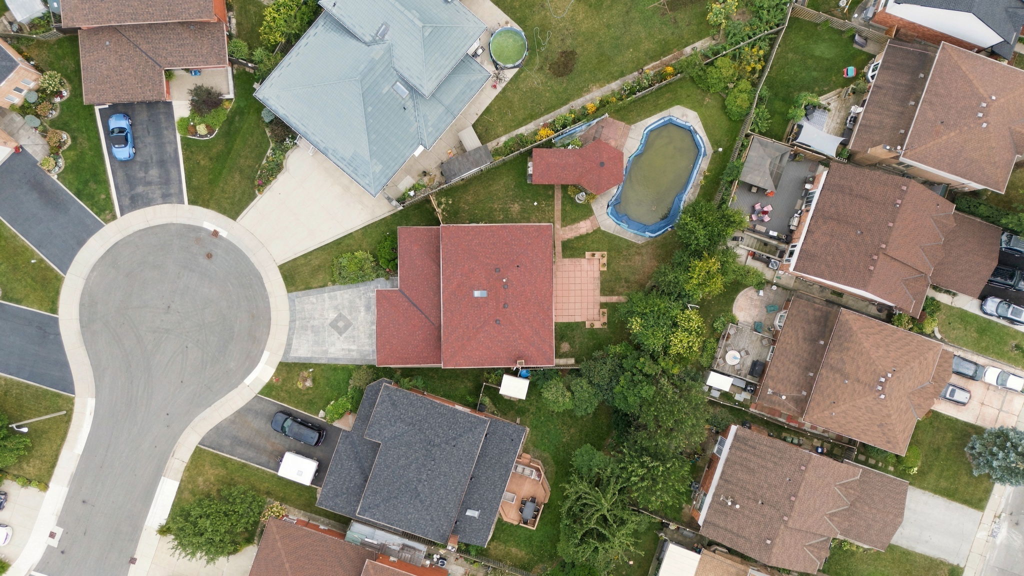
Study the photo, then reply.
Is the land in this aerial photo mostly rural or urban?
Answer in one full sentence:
The land in this view is best described as urban.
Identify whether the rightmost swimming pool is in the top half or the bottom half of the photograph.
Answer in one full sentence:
The rightmost swimming pool is in the top half of the image.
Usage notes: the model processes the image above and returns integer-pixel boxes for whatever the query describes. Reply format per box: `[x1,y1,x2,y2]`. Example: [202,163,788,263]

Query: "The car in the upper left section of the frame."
[108,115,137,161]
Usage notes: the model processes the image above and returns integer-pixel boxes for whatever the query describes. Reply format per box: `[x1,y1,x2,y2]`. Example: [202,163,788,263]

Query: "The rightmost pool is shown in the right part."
[607,100,705,238]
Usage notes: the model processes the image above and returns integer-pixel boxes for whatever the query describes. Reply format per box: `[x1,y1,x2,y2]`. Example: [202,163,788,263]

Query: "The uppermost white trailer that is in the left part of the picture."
[277,451,320,486]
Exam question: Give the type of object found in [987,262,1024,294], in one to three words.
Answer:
truck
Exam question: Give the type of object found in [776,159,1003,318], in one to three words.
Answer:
house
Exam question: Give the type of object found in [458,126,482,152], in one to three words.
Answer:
shed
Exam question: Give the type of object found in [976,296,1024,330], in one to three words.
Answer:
car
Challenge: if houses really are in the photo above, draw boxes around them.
[58,0,235,108]
[250,508,456,576]
[841,38,1024,196]
[751,296,954,457]
[690,421,910,575]
[253,0,492,198]
[0,37,40,171]
[776,159,1003,318]
[315,378,527,555]
[375,223,556,369]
